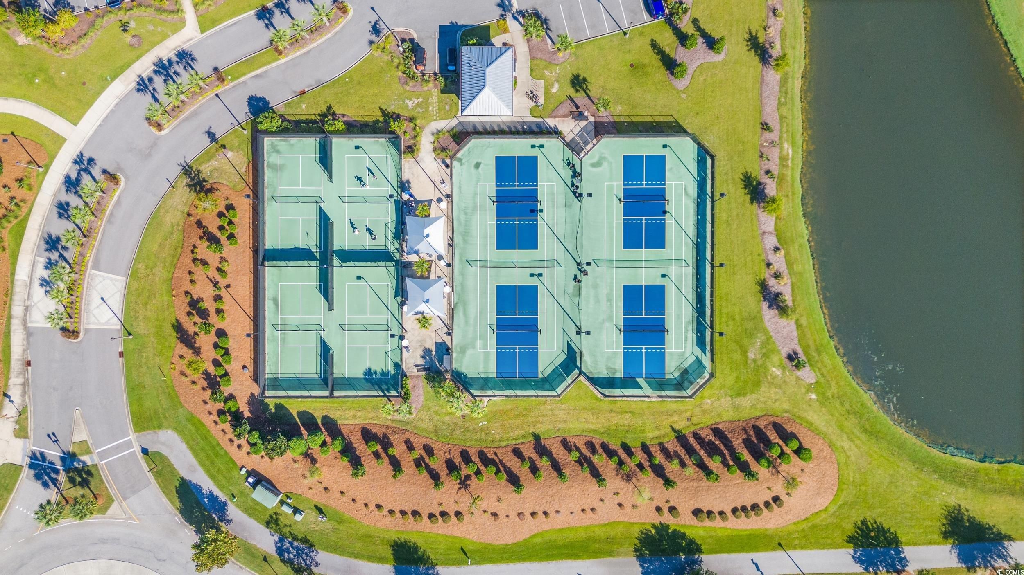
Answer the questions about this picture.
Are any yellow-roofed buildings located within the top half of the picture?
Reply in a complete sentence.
No, I see no yellow-roofed building within the top half of the picture.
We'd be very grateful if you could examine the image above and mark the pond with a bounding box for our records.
[799,0,1024,464]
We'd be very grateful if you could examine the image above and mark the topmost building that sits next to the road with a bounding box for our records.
[460,45,514,118]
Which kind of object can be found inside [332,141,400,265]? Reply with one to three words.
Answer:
sports court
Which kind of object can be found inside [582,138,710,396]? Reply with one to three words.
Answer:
tennis court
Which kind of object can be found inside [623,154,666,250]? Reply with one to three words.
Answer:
sports court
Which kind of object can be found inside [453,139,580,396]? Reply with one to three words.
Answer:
tennis court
